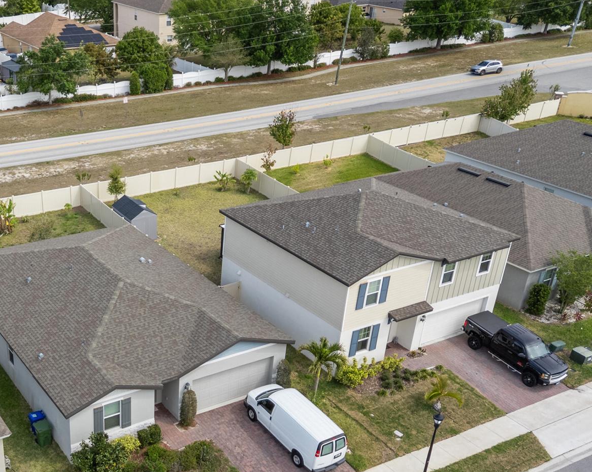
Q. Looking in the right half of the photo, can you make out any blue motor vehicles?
No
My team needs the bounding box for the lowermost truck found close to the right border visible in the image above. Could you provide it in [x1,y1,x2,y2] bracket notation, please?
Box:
[463,313,575,387]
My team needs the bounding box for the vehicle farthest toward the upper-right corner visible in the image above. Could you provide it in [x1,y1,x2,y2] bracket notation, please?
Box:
[474,59,505,75]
